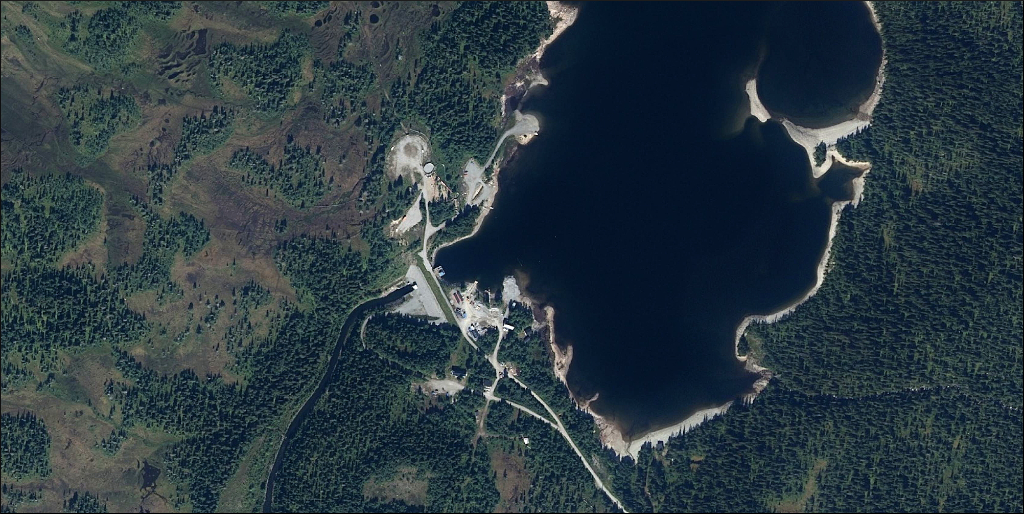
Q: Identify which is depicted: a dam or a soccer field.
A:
dam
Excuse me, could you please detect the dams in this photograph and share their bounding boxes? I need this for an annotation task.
[391,255,459,326]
